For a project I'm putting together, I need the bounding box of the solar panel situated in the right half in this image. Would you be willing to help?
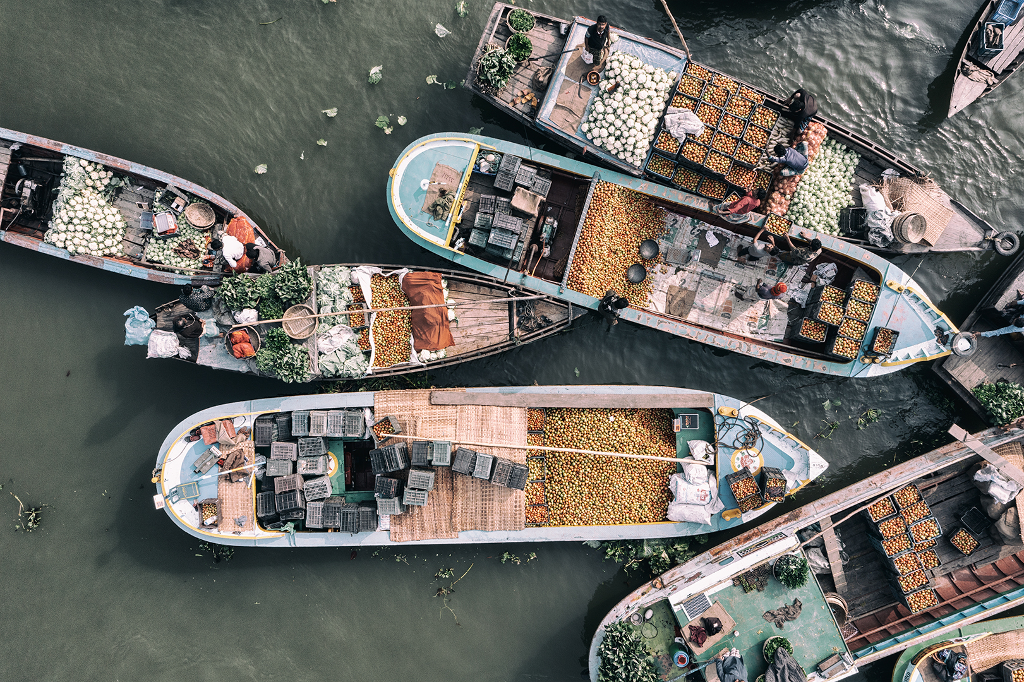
[682,591,714,621]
